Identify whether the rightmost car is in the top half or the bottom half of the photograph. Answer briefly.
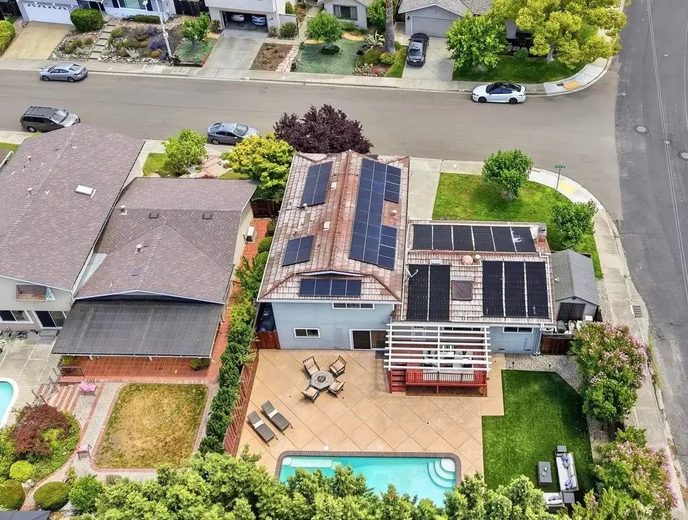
top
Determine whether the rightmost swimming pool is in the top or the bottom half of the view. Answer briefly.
bottom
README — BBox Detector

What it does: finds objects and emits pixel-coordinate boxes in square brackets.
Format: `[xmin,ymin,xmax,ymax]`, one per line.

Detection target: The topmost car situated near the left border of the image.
[32,59,90,83]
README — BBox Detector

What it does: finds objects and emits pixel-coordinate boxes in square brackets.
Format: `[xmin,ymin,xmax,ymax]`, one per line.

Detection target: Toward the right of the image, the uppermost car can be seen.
[405,30,429,62]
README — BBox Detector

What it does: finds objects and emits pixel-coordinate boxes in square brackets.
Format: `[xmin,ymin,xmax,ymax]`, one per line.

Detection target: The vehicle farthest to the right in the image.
[471,80,527,104]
